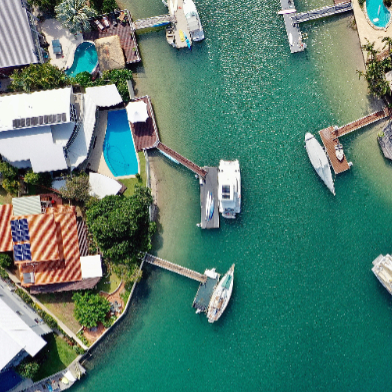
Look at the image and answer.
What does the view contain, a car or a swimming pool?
swimming pool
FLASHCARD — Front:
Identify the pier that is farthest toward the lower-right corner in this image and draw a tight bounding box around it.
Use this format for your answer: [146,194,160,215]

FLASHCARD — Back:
[192,273,221,313]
